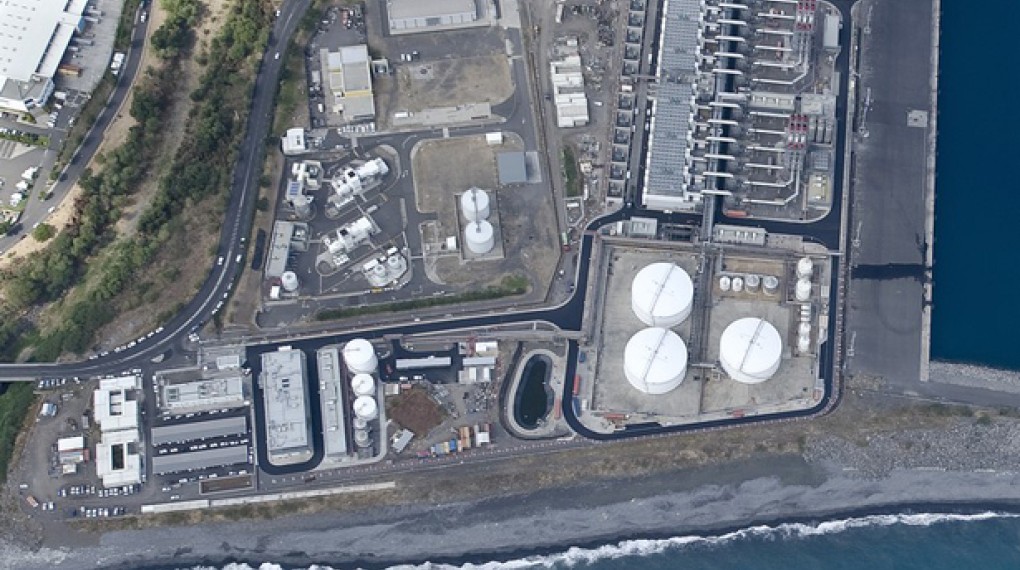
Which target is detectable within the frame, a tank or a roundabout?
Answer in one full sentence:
Looking from above, you can make out a tank.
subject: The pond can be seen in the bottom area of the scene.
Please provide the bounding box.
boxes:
[506,348,563,436]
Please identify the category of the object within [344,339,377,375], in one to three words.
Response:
storage tank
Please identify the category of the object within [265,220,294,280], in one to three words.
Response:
building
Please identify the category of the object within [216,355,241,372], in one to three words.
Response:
building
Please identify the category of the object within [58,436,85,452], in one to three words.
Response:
shed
